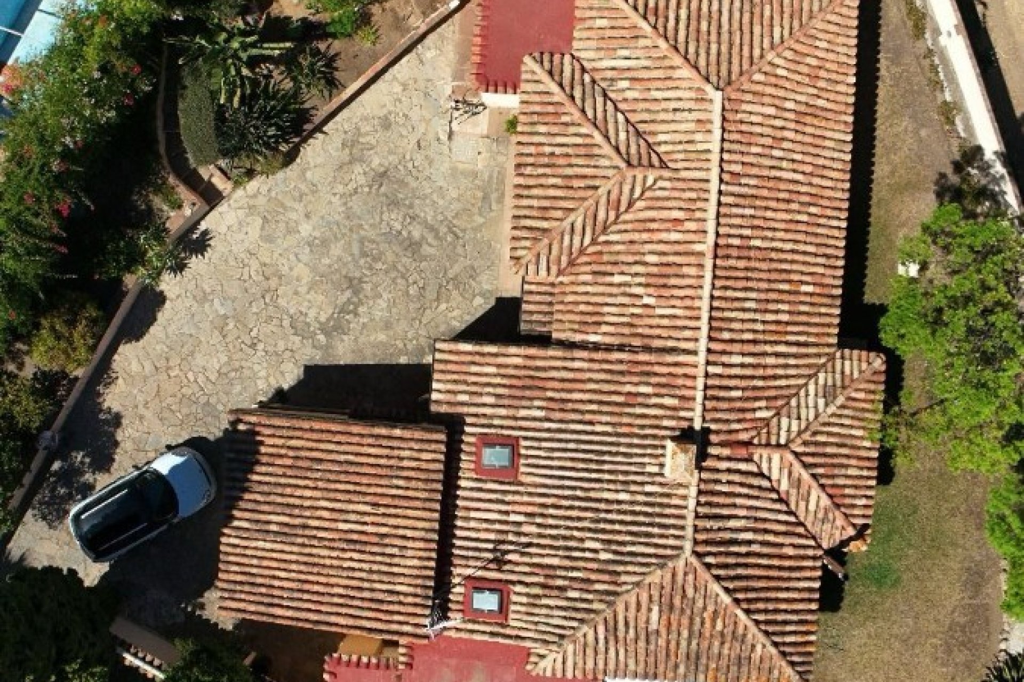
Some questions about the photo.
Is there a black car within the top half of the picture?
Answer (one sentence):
No, there's no black car to be seen within the top half of the picture.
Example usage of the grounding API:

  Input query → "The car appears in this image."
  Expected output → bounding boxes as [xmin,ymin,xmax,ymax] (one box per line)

[67,443,222,561]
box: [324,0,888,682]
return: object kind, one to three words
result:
house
